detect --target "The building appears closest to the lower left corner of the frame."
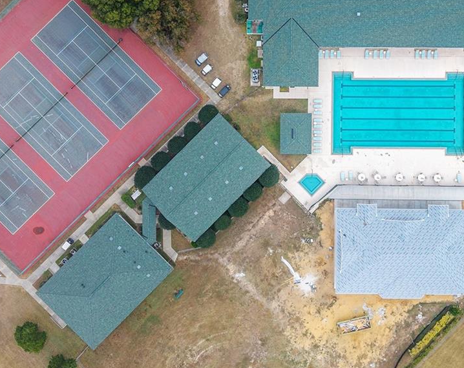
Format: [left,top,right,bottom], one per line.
[36,213,174,350]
